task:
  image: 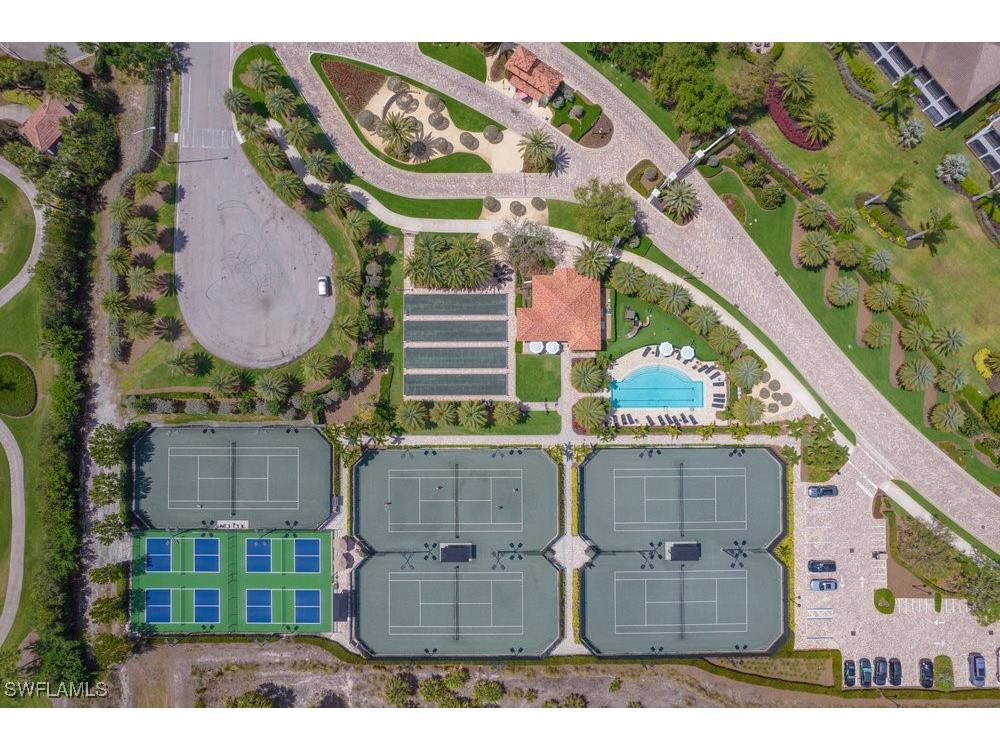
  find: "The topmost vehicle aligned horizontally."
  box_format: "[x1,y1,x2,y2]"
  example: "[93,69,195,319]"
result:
[808,484,838,498]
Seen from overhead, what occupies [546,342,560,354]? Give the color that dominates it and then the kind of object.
white umbrella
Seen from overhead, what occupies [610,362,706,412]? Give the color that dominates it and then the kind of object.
blue swimming pool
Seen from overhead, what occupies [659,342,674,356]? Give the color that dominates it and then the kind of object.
white umbrella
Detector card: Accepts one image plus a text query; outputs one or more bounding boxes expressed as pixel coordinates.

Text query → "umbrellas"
[529,342,543,354]
[546,342,560,354]
[333,537,349,552]
[333,556,349,571]
[659,342,674,356]
[681,346,694,360]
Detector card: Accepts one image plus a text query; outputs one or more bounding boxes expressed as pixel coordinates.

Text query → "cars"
[888,658,903,685]
[808,560,836,573]
[316,276,328,297]
[857,658,872,686]
[808,484,838,498]
[968,654,986,685]
[810,579,837,592]
[842,659,856,686]
[872,657,888,684]
[918,659,935,686]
